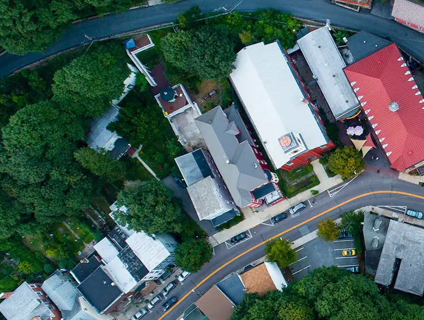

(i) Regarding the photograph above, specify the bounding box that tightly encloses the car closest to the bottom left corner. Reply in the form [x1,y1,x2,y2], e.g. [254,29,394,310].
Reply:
[131,308,148,320]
